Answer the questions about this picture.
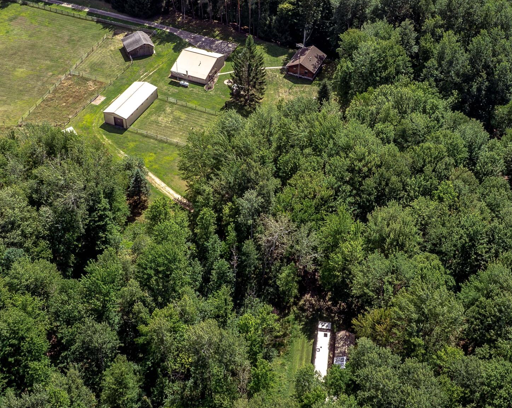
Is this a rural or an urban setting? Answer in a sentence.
It looks rural.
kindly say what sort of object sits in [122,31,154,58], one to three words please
barn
